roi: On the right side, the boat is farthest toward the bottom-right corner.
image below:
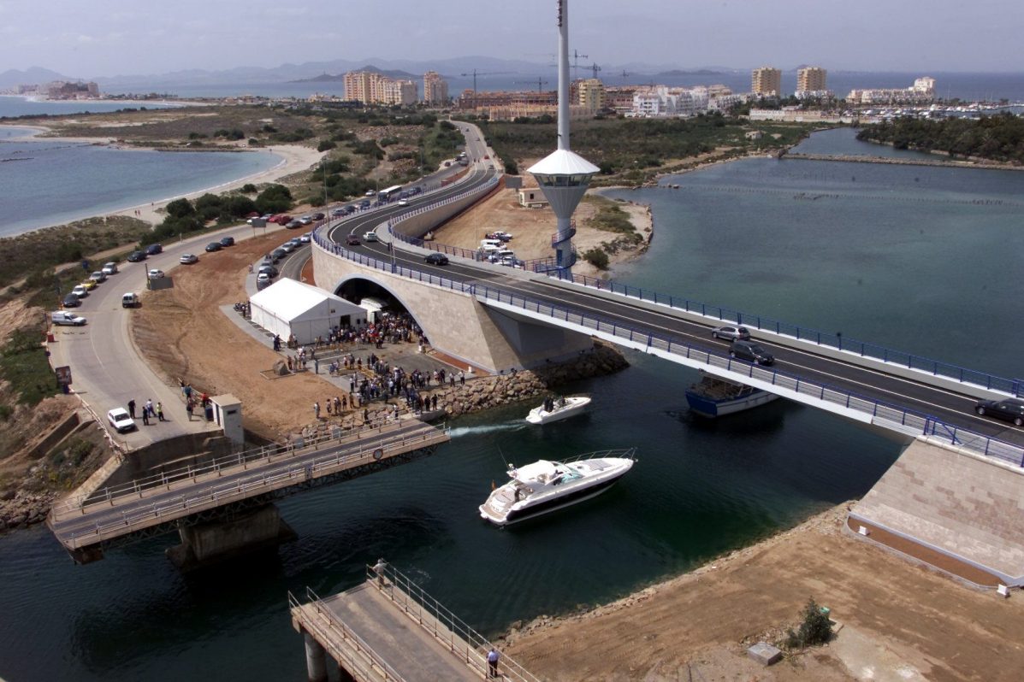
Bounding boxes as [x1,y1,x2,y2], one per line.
[688,375,789,420]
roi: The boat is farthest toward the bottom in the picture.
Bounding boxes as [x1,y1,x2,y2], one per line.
[473,442,639,529]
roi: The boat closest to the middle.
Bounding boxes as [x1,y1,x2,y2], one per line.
[521,390,589,424]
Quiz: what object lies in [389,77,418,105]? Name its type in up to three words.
building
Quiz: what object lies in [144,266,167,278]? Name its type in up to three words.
vehicle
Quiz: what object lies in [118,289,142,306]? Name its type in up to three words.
vehicle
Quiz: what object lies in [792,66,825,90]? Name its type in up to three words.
building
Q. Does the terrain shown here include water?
Yes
